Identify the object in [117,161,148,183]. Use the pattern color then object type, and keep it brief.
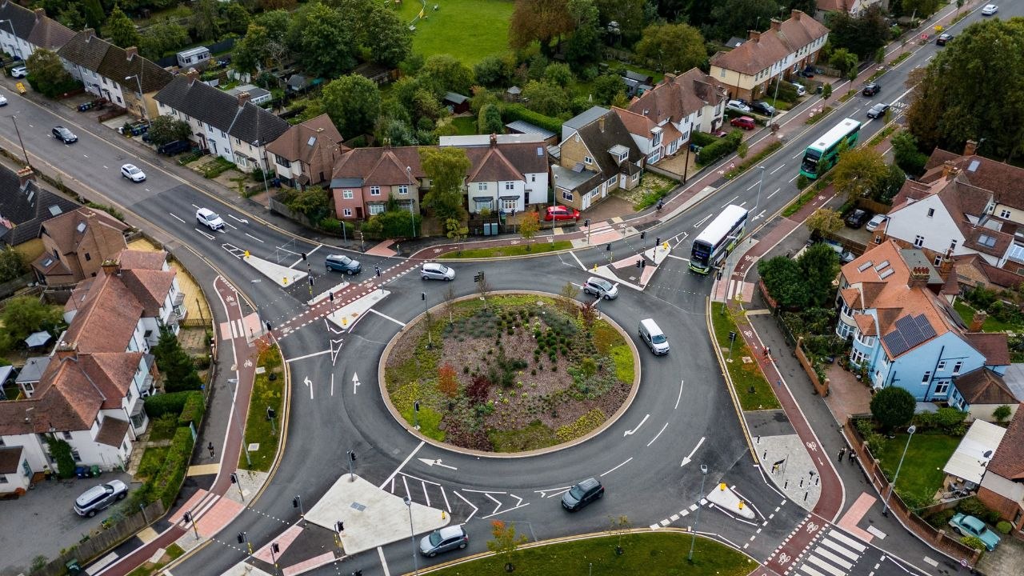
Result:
white car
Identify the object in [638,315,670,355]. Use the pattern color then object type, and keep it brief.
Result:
white van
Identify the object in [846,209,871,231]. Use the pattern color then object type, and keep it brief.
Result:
black car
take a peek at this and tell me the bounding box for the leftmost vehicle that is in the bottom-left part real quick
[67,476,129,522]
